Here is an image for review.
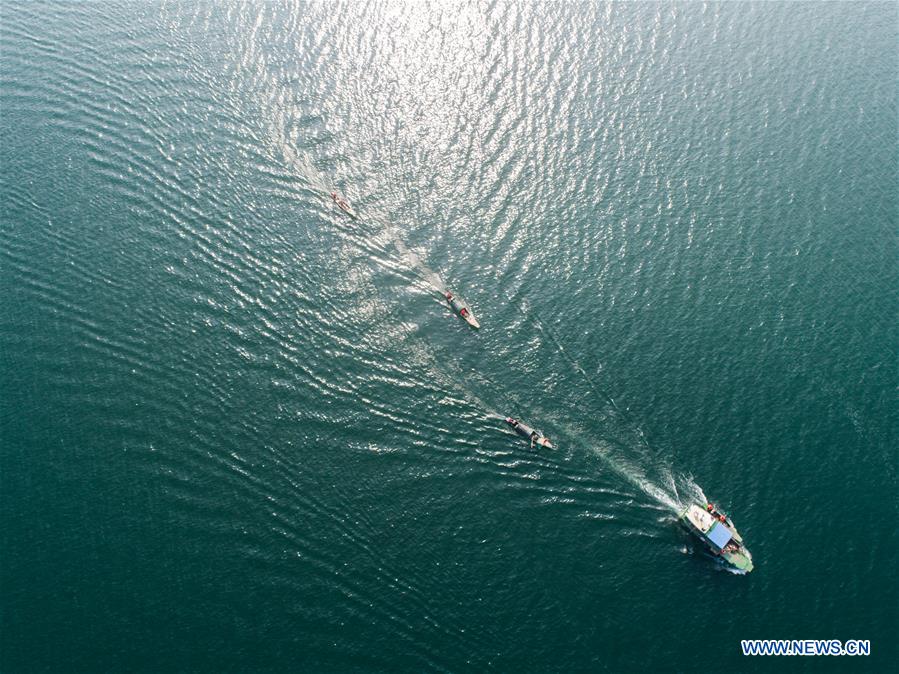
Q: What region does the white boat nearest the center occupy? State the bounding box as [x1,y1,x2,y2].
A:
[445,290,479,327]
